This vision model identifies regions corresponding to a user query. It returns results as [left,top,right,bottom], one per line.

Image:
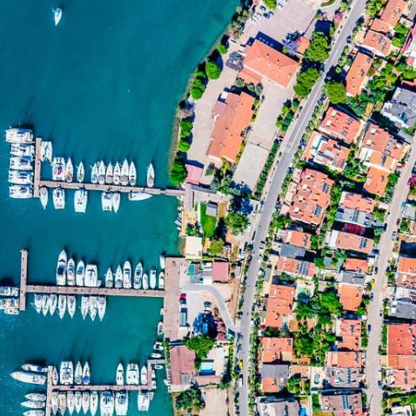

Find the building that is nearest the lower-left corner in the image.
[170,346,223,385]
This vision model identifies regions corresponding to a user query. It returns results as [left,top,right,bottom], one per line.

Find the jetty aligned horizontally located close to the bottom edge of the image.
[46,359,168,416]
